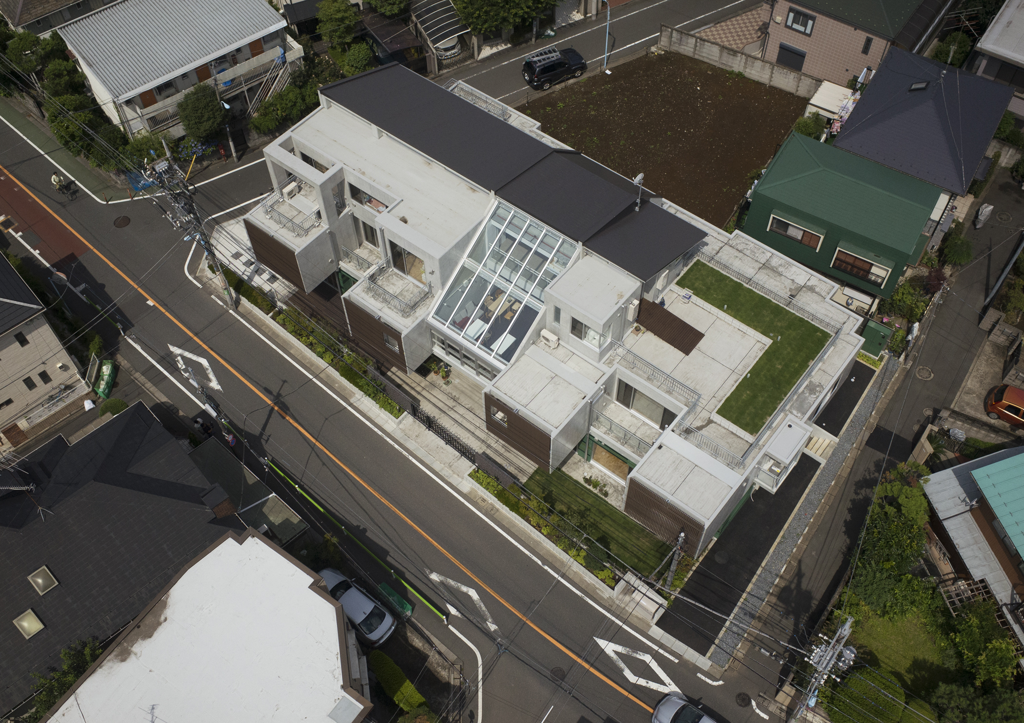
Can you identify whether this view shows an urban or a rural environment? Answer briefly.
urban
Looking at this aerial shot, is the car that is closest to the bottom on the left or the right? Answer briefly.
right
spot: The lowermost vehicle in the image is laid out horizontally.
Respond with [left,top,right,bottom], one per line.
[638,686,722,723]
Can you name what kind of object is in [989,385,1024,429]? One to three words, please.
car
